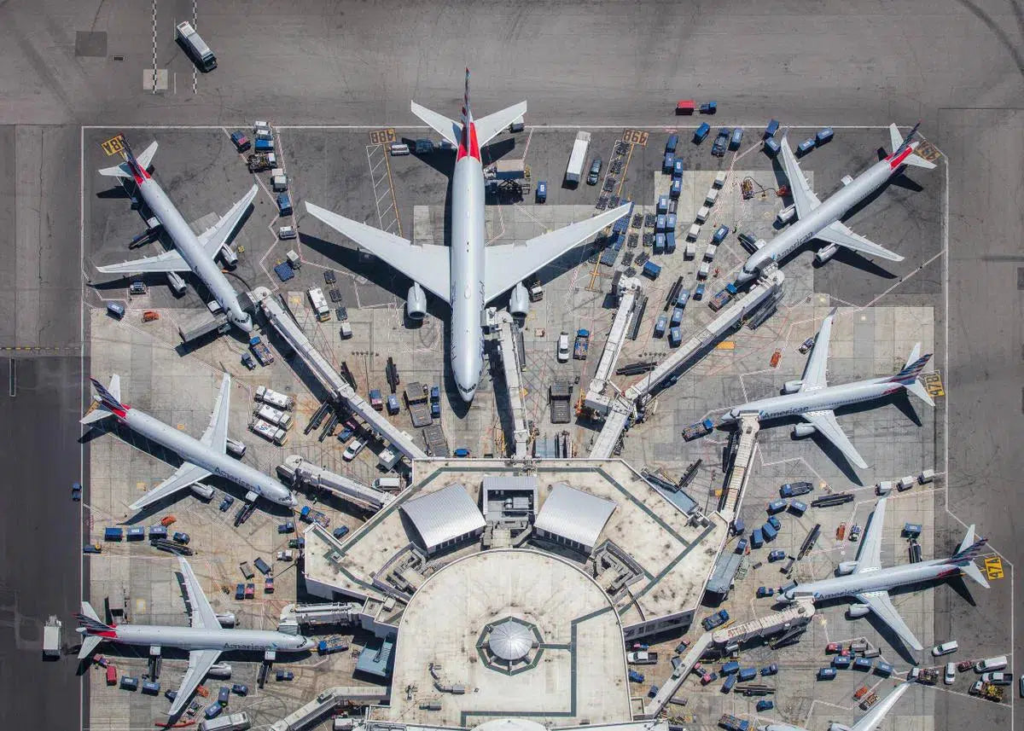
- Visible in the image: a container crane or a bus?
bus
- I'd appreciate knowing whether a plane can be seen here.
Yes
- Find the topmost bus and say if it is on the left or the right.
left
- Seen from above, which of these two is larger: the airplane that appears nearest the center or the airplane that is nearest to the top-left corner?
the airplane that appears nearest the center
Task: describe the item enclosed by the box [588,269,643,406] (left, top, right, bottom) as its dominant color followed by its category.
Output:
white jet bridge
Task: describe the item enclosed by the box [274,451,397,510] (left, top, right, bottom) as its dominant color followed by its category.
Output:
white jet bridge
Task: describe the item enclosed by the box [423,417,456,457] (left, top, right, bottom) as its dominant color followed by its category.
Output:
gray work vehicle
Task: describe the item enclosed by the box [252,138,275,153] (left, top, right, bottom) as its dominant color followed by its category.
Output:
blue vehicle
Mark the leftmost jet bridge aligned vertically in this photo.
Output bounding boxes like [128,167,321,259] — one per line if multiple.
[479,305,531,462]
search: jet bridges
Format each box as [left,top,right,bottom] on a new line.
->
[276,601,360,637]
[588,269,643,406]
[644,591,819,720]
[274,451,397,510]
[237,283,422,470]
[718,406,761,538]
[579,258,786,458]
[259,686,391,731]
[479,305,531,462]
